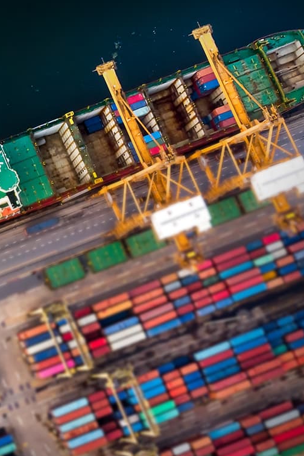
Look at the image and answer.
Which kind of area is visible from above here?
port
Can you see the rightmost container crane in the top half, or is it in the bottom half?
top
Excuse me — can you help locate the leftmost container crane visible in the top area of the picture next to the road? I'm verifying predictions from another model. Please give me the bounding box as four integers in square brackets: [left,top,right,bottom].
[92,60,216,269]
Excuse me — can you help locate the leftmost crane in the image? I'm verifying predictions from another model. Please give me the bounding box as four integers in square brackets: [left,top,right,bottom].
[27,299,93,378]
